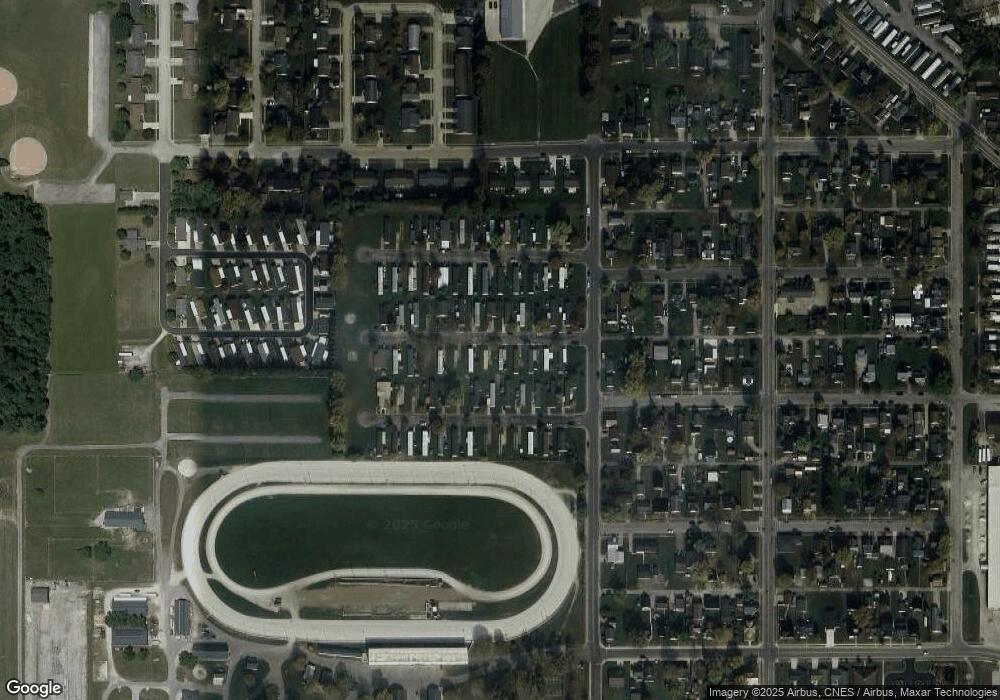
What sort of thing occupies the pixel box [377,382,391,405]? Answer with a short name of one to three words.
house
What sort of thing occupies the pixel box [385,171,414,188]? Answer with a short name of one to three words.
building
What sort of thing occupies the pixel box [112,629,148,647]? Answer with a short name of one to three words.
barn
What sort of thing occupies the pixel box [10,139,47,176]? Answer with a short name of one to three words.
baseball field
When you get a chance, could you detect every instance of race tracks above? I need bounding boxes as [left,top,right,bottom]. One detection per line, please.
[181,460,580,649]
